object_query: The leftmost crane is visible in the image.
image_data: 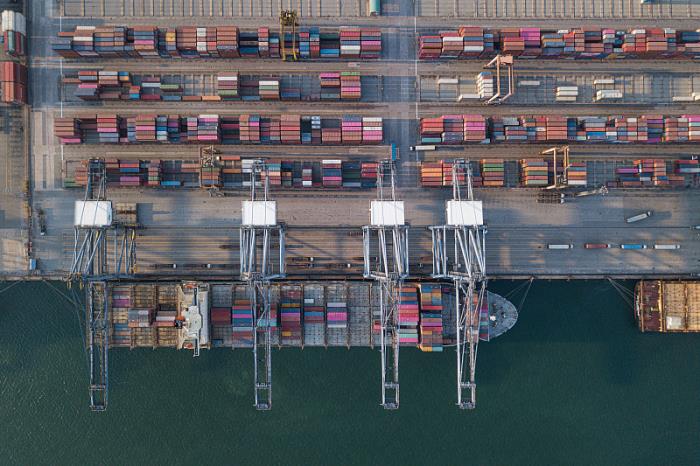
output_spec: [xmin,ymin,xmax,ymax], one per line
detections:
[57,161,140,410]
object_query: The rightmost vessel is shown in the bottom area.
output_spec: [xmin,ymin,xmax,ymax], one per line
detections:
[631,280,700,333]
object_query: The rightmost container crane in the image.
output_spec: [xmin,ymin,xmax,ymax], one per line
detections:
[537,148,569,192]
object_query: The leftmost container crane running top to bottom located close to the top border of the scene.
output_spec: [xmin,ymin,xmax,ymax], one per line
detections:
[280,7,304,62]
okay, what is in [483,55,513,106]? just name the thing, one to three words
container crane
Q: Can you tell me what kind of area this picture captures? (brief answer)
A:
port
